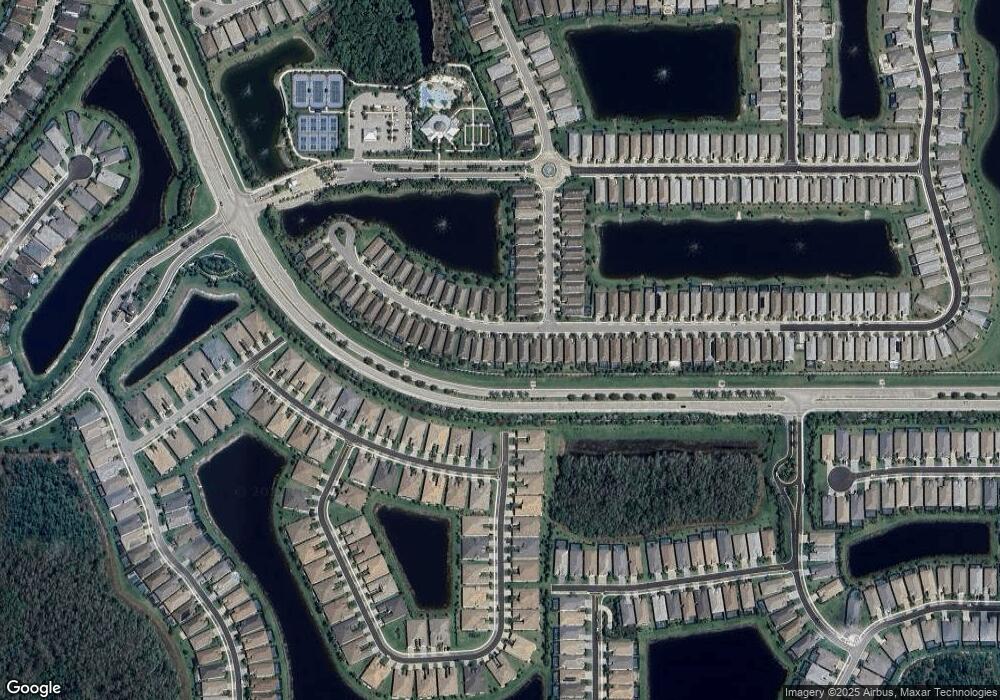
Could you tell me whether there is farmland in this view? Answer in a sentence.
No, farmland can't be seen anywhere here.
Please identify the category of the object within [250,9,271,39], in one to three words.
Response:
house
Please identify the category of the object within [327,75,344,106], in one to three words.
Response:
tennis court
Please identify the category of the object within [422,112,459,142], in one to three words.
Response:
building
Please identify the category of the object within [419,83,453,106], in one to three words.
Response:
swimming pool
